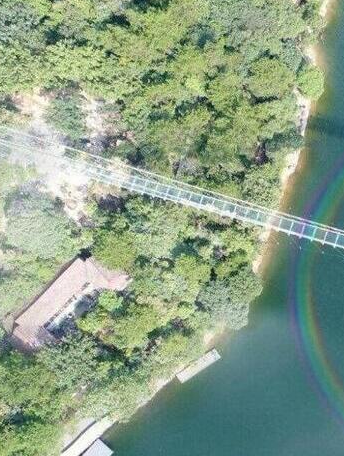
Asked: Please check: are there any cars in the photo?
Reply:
No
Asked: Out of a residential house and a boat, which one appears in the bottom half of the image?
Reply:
residential house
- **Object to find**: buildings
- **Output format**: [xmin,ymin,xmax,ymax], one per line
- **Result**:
[12,251,132,353]
[83,438,114,456]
